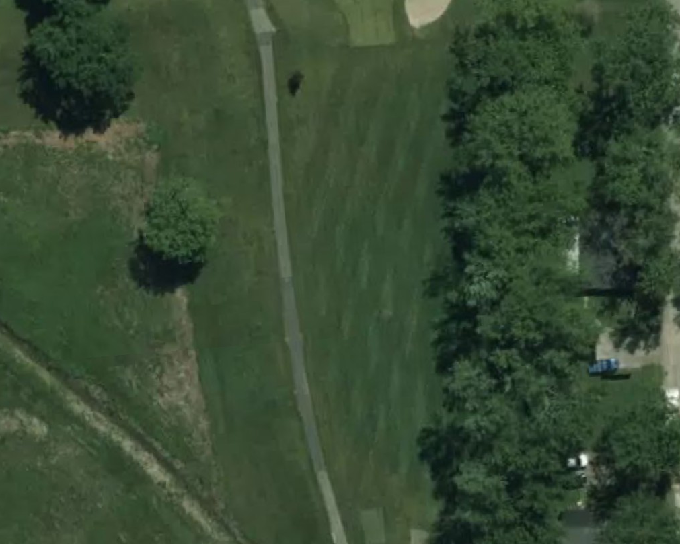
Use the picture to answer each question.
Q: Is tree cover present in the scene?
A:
Yes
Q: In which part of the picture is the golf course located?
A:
center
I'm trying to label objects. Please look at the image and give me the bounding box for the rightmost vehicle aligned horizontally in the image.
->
[588,359,620,376]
